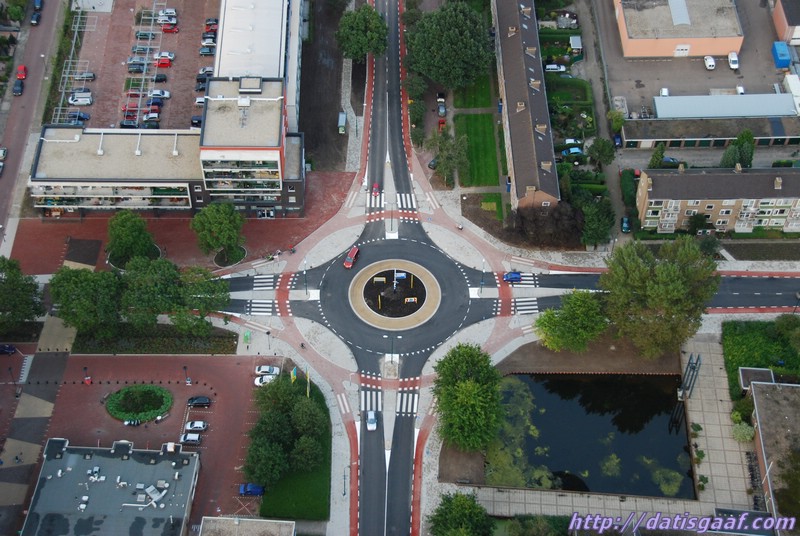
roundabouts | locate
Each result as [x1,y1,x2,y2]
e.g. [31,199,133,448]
[317,238,472,356]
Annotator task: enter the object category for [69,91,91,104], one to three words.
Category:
vehicle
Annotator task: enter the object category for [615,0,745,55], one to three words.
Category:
building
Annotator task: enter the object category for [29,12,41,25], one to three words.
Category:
vehicle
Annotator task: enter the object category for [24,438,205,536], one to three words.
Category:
building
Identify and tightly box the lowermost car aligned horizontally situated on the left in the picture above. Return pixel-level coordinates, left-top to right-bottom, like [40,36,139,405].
[238,484,265,496]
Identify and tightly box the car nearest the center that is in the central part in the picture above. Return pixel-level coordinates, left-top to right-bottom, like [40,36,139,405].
[344,248,359,266]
